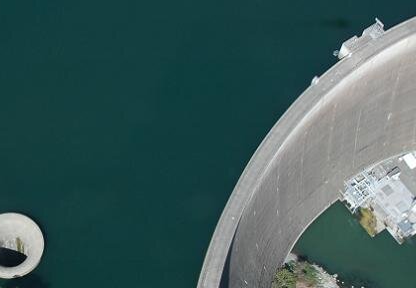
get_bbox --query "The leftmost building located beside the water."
[333,35,363,65]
